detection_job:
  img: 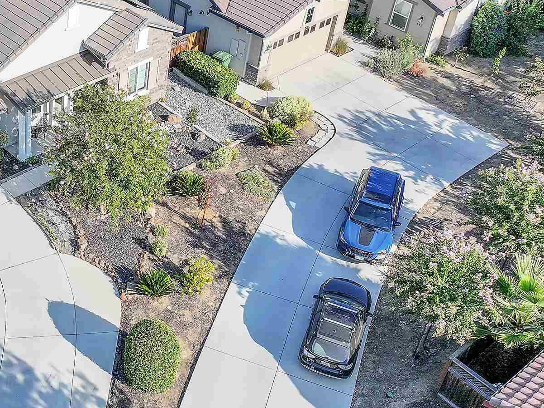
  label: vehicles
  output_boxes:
[303,267,379,375]
[336,166,396,259]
